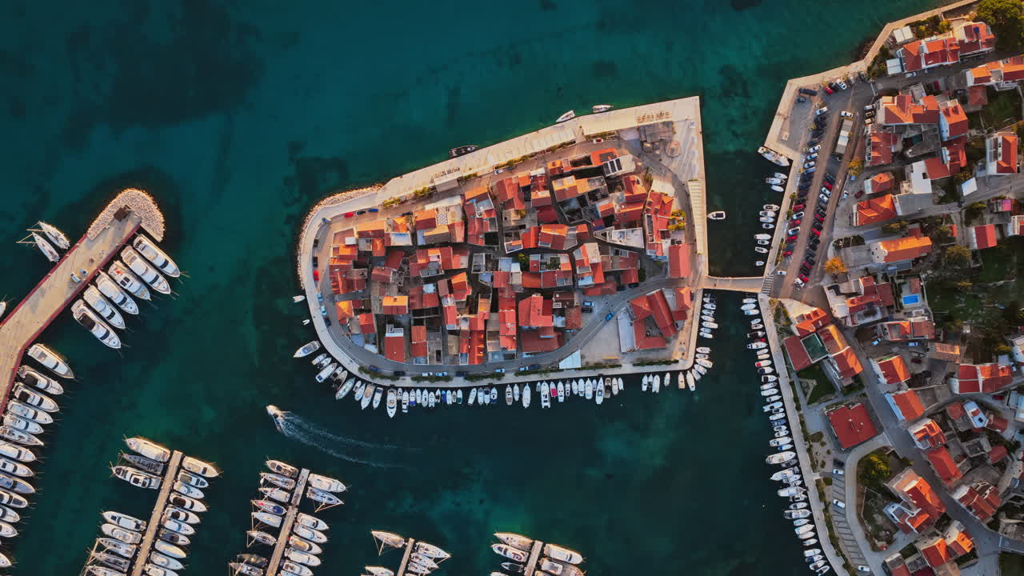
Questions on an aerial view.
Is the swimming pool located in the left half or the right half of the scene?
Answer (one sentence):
The swimming pool is on the right side of the image.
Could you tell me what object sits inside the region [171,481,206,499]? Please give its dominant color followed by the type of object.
white boat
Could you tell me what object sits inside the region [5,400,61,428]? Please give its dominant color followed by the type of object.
white boat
